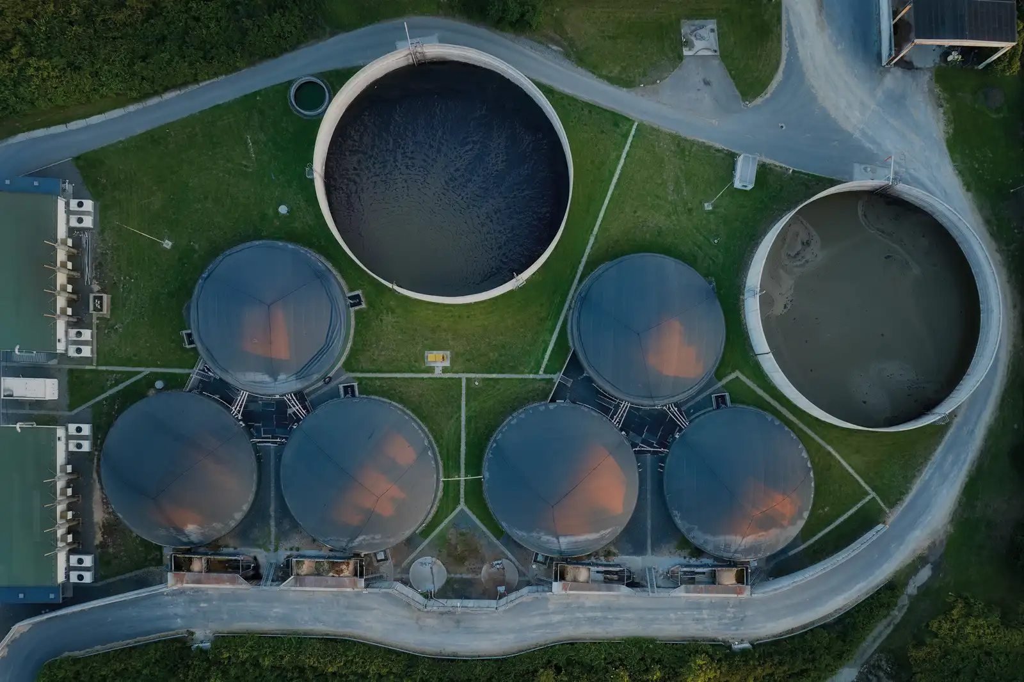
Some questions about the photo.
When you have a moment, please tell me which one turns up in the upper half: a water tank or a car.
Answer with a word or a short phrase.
water tank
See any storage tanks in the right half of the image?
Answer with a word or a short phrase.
Yes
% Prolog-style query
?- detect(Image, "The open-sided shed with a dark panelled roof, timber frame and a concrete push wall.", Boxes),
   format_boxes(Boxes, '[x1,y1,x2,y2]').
[880,0,1023,66]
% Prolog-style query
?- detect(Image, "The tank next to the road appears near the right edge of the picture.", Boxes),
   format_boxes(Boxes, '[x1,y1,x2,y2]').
[743,182,1004,429]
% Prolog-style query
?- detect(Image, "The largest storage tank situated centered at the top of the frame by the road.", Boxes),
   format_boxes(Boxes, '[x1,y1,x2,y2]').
[313,44,572,304]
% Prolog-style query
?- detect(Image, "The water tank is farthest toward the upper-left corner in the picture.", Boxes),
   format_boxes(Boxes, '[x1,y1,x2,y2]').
[292,79,333,120]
